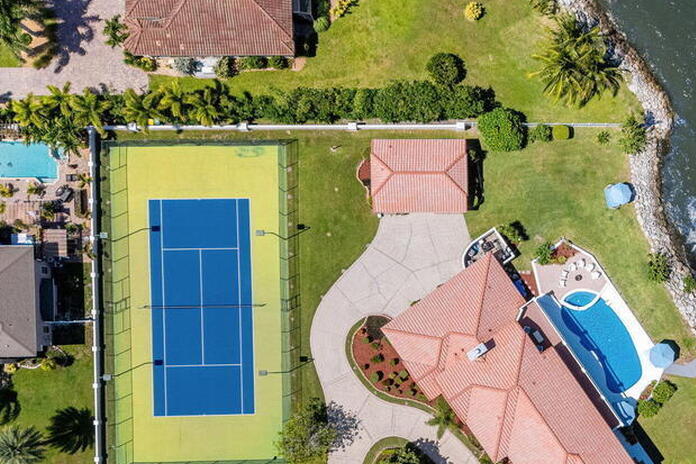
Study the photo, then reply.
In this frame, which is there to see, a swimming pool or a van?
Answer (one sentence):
The one in the frame is a swimming pool.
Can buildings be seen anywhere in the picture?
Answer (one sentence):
Yes, the image includes a building.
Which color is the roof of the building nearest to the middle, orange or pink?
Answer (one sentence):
In this view, the roof of the building nearest to the middle is pink.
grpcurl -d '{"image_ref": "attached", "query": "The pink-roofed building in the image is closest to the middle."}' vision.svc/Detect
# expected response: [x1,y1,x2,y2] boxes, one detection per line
[371,139,468,215]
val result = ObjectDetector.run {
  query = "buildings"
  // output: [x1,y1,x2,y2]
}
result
[123,0,296,63]
[384,252,639,464]
[371,139,468,215]
[0,246,65,357]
